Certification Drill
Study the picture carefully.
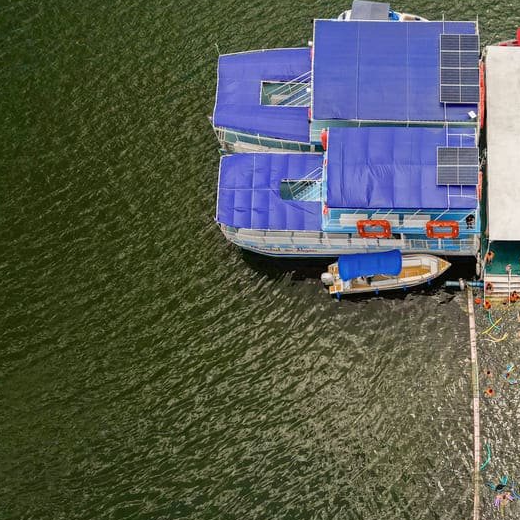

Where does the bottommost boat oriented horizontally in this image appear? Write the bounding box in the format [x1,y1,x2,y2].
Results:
[322,248,452,300]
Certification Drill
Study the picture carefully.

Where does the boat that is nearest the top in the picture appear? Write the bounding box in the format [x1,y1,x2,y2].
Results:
[339,0,419,19]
